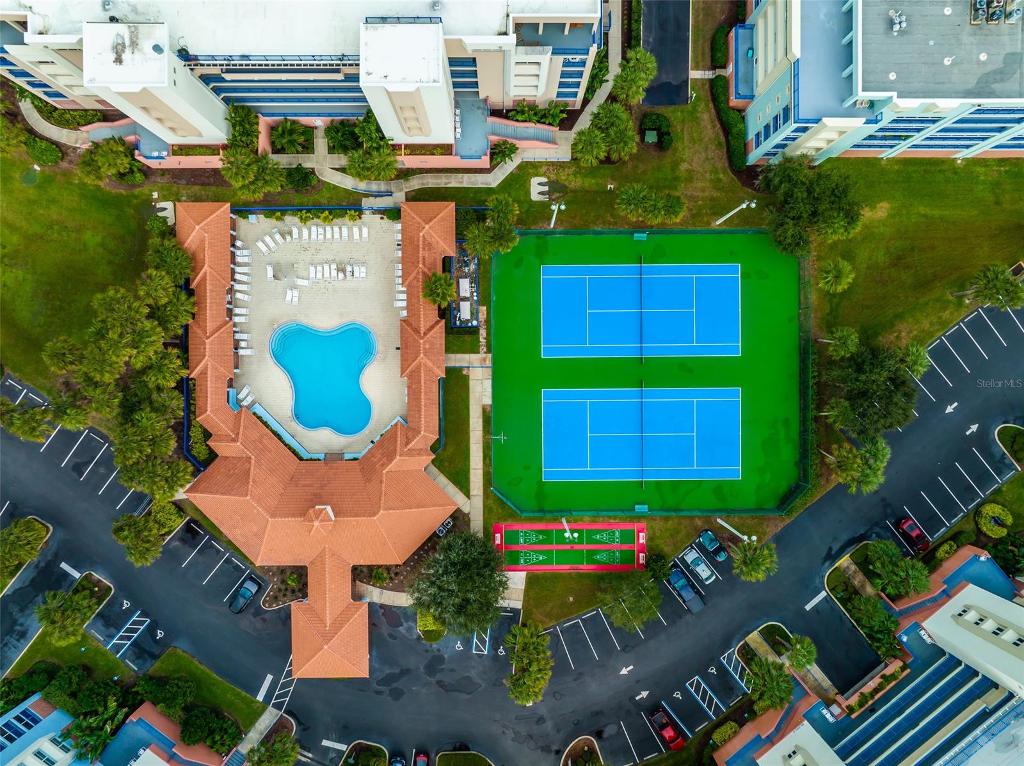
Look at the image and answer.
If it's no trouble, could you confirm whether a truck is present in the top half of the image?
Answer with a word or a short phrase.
No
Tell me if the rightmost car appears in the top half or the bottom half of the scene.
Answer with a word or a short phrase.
bottom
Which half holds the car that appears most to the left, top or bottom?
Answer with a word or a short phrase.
bottom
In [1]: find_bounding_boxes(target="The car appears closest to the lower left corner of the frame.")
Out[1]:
[228,576,263,616]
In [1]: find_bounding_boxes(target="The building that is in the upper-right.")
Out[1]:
[727,0,1024,166]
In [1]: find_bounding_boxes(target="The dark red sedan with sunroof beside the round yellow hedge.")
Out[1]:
[893,516,928,553]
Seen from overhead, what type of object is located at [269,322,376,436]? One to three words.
swimming pool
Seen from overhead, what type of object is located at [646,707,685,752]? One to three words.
truck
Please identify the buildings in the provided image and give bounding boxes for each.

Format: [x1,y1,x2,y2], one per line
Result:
[0,693,250,766]
[709,545,1024,766]
[727,0,1024,166]
[0,0,604,165]
[175,201,457,679]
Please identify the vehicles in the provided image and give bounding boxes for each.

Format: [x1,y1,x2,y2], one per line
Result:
[682,546,719,587]
[697,526,730,565]
[411,749,430,766]
[228,576,263,616]
[893,516,928,553]
[665,567,707,615]
[646,707,685,752]
[390,752,407,766]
